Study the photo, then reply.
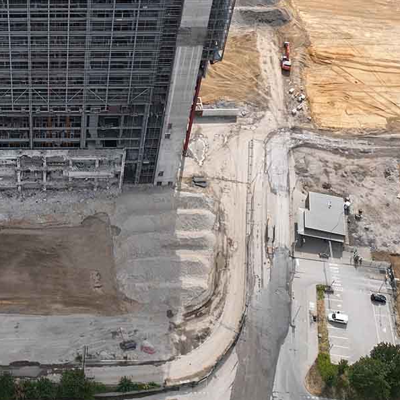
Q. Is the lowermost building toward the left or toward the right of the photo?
right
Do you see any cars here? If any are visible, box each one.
[328,311,349,322]
[369,292,389,303]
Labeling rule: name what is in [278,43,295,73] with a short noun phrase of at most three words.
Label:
work vehicle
